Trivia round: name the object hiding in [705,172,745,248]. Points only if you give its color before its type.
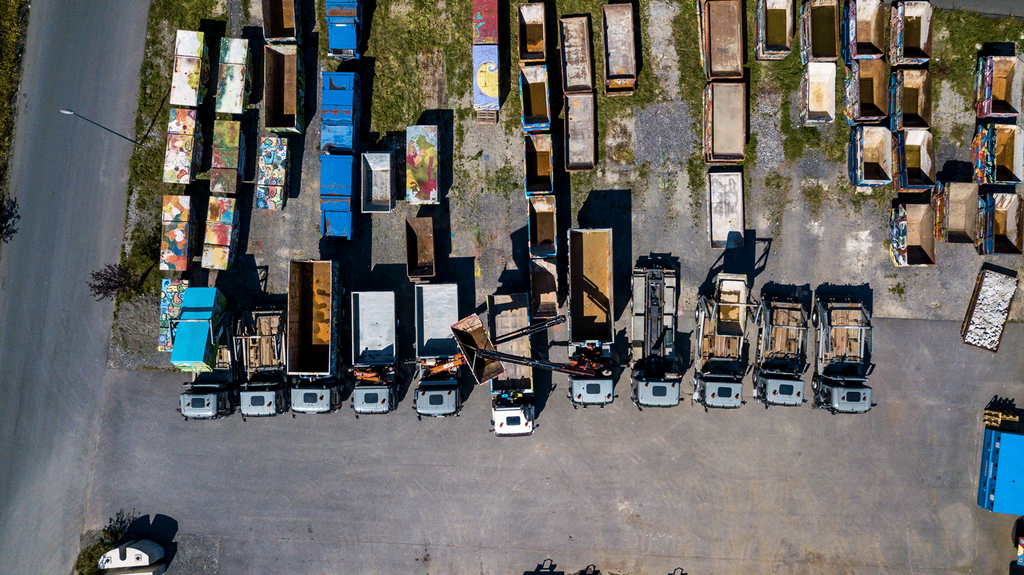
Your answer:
white shipping container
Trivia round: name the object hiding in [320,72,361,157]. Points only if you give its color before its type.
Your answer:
blue shipping container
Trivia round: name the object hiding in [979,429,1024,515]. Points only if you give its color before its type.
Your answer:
blue shipping container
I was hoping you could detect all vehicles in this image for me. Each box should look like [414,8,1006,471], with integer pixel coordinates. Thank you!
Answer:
[751,295,811,416]
[813,302,877,424]
[487,393,541,447]
[348,290,399,425]
[474,344,624,415]
[693,297,759,419]
[629,266,684,418]
[230,305,291,428]
[409,283,467,426]
[164,307,236,430]
[286,351,341,424]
